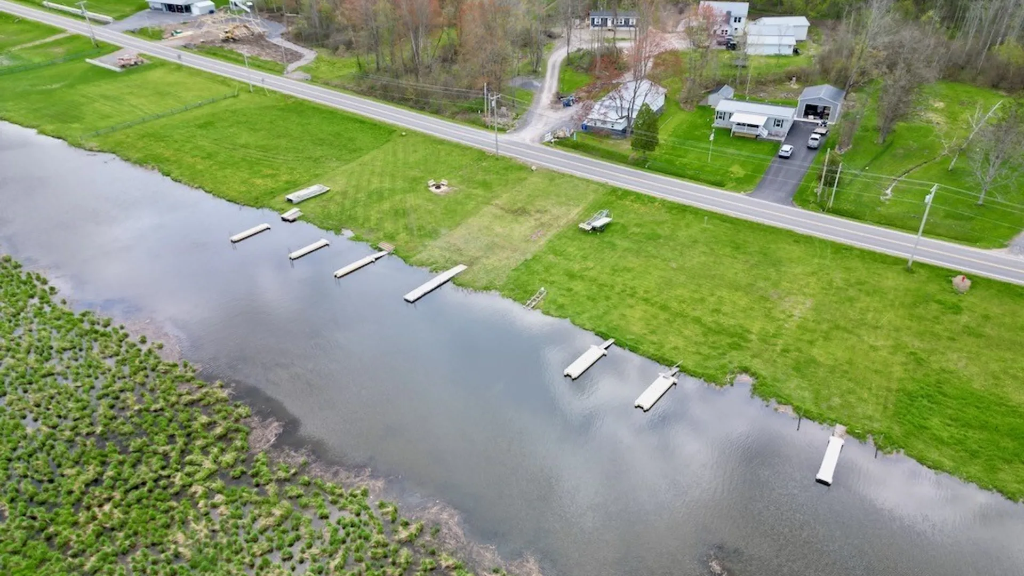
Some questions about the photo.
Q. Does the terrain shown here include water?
Yes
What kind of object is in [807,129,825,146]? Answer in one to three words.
vehicle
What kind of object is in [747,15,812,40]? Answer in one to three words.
barn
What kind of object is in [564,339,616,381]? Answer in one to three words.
pier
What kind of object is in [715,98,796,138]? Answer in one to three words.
house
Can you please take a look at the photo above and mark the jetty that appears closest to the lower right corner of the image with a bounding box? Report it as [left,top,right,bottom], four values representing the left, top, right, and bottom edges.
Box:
[813,431,848,488]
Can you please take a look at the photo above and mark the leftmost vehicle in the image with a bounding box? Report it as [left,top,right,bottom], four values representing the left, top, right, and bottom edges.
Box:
[116,52,147,68]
